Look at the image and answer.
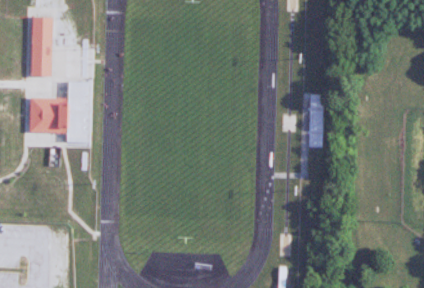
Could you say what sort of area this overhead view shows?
sports ground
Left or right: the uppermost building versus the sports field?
on the left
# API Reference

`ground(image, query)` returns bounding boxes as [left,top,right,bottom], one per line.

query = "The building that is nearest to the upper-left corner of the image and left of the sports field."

[30,17,52,76]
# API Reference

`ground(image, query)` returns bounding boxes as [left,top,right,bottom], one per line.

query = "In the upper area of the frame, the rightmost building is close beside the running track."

[66,82,89,144]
